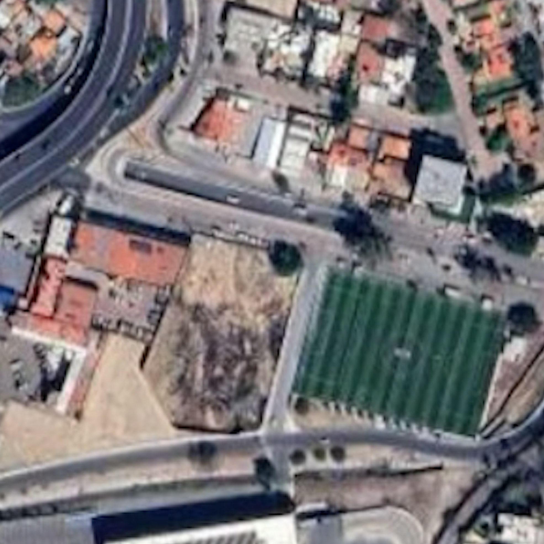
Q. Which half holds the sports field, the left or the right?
right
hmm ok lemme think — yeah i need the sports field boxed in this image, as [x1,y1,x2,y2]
[293,271,504,435]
